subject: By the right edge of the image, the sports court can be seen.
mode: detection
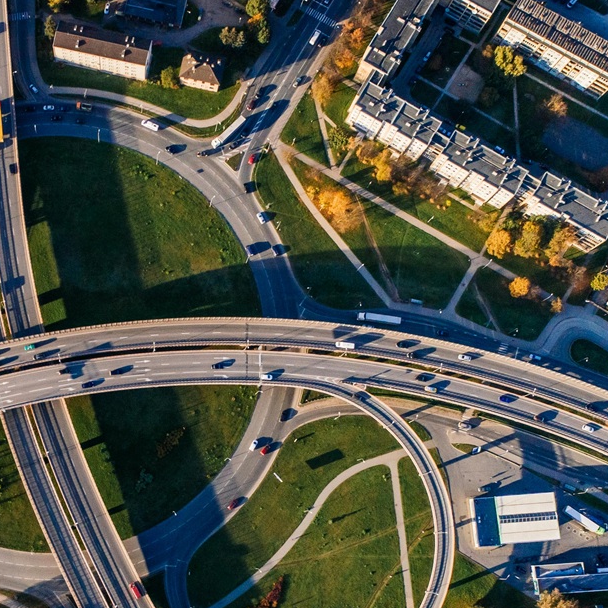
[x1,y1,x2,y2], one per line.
[542,117,608,171]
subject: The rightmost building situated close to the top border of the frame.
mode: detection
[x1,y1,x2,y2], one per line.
[493,0,608,98]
